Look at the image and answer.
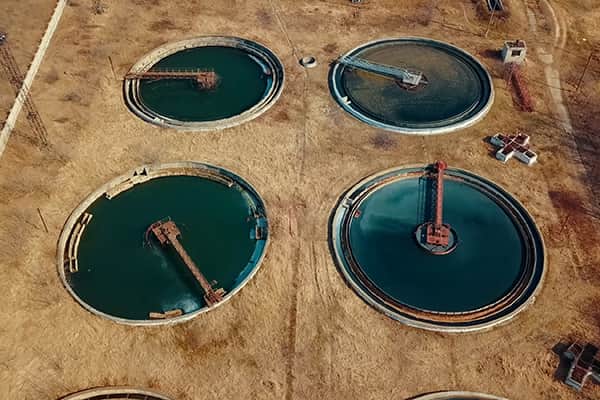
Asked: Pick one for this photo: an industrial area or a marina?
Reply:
industrial area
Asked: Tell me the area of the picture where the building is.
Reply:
top right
